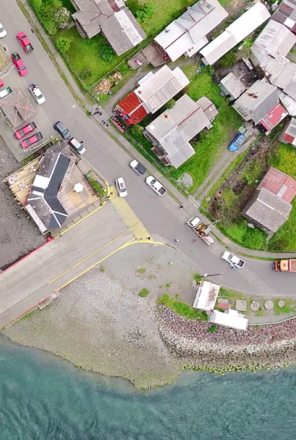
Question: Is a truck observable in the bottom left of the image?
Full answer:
No, no truck is visible in the bottom left of the image.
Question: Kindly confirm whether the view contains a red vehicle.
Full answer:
Yes, the photo shows a red vehicle.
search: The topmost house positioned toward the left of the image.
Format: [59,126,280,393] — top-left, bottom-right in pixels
[66,0,147,58]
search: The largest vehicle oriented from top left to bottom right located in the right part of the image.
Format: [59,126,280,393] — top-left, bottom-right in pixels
[184,219,213,245]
